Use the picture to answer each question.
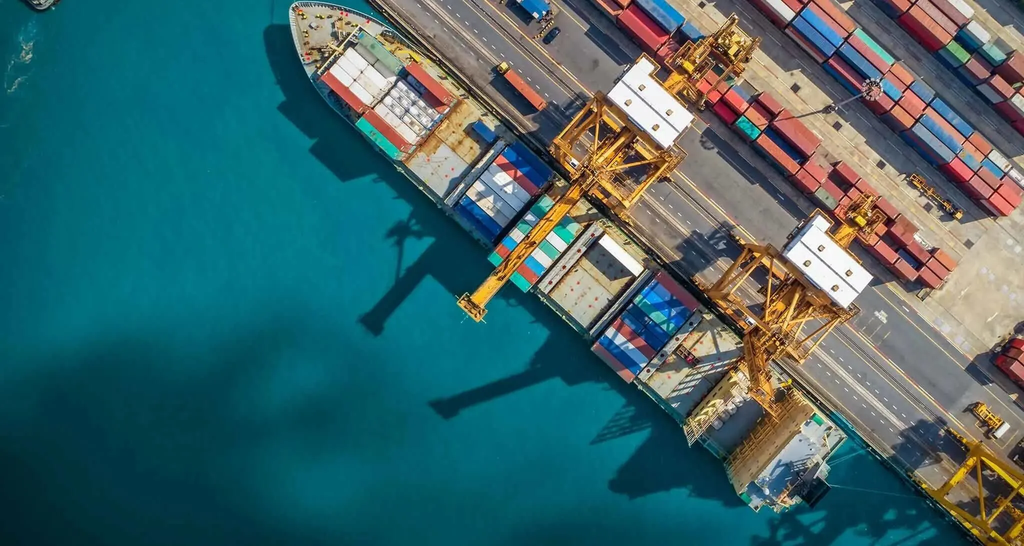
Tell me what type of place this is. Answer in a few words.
port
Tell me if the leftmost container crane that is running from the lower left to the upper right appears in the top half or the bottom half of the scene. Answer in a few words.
top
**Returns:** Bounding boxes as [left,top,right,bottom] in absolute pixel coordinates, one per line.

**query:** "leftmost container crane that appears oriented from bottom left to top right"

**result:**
[448,34,719,333]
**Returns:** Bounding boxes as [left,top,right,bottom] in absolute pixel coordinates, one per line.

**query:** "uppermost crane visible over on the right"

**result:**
[680,11,763,116]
